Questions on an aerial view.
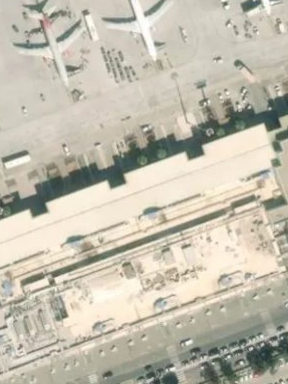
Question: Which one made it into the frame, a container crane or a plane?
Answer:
plane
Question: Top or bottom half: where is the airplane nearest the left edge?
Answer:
top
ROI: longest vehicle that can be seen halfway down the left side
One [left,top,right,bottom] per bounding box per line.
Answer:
[2,152,31,168]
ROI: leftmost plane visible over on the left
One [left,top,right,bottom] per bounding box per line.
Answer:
[19,5,84,85]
